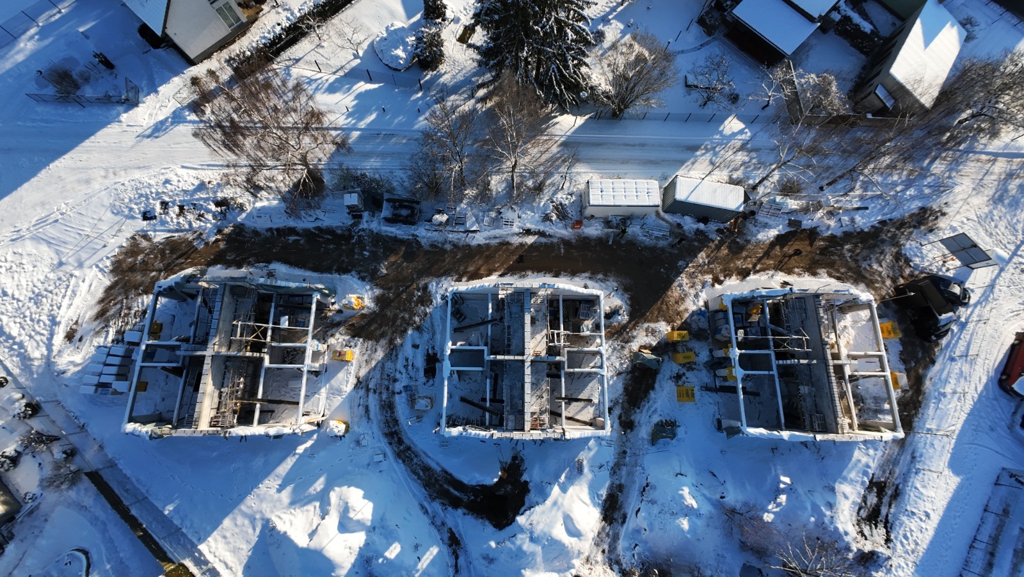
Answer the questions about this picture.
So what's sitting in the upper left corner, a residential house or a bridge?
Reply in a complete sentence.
It is a residential house that can be seen in the upper left corner.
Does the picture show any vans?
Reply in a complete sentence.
Yes, I can see a van in this picture.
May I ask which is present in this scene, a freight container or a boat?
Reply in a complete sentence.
It is a freight container that can be seen here.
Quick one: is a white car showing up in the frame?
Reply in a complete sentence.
No, no white car can be seen from above.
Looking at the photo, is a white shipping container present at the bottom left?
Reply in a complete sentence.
No, I see no white shipping container at the bottom left.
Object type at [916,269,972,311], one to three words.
car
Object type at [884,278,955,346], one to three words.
van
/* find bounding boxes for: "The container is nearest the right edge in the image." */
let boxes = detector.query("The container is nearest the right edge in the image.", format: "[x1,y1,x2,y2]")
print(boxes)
[667,175,748,222]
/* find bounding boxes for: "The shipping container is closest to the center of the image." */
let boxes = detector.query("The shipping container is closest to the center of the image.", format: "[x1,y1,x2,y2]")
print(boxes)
[584,179,660,219]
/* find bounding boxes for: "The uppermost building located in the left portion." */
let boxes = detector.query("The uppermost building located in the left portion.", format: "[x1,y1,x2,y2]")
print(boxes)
[125,0,265,65]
